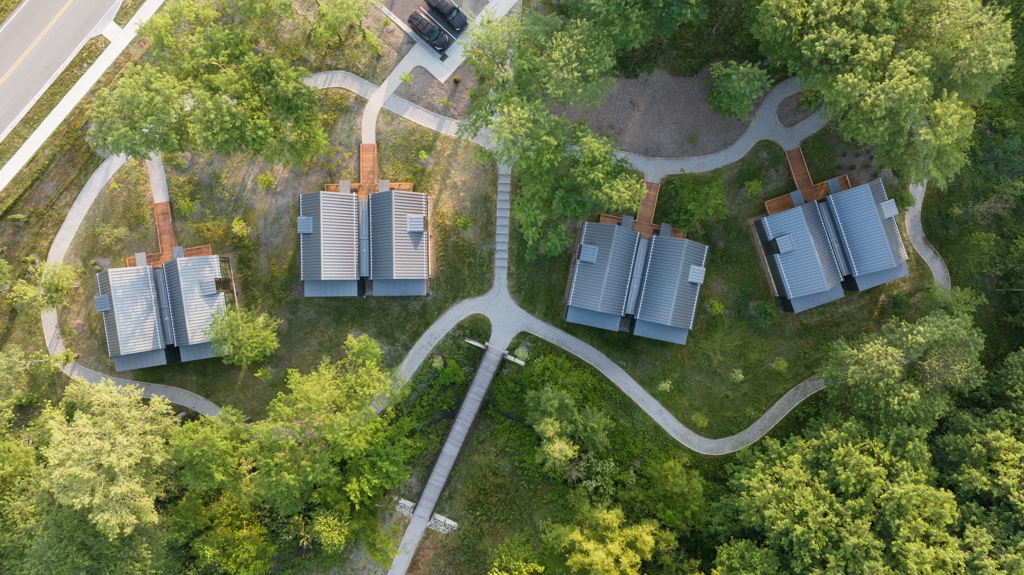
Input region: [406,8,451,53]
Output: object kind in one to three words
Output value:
car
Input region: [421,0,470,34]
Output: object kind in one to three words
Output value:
truck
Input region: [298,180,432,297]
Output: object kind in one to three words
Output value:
building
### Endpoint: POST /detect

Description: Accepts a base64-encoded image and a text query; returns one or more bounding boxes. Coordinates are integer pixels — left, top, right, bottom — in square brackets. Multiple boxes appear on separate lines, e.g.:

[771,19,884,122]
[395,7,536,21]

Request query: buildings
[93,246,244,370]
[749,176,910,313]
[298,180,432,297]
[565,215,709,343]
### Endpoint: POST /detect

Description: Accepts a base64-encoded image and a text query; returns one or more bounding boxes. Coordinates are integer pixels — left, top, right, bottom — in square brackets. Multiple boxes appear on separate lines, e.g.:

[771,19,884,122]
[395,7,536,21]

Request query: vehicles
[421,0,470,34]
[406,8,451,53]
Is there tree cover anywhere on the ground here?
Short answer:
Yes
